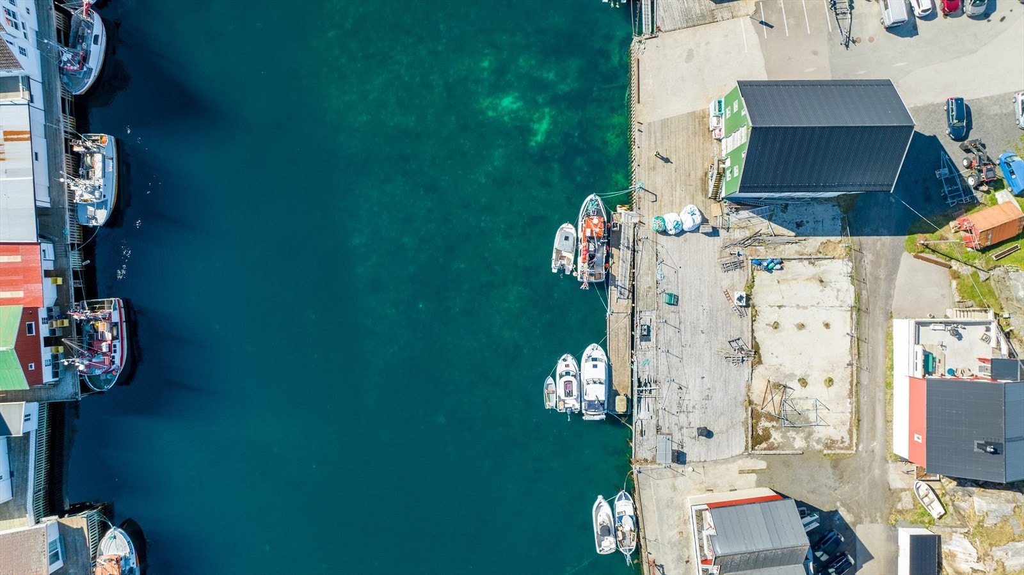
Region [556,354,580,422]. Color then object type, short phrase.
white boat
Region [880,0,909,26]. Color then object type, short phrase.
white vehicle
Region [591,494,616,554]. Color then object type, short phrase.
white boat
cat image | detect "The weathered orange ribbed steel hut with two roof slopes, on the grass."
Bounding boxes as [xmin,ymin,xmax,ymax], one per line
[959,199,1024,248]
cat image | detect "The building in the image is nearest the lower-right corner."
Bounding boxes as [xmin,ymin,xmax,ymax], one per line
[898,528,938,575]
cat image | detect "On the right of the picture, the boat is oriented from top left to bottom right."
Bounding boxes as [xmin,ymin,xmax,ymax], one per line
[915,482,945,519]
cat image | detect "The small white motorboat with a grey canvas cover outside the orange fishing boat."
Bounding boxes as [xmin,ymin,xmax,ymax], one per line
[552,224,578,276]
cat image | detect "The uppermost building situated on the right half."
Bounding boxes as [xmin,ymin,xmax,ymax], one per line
[707,78,915,201]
